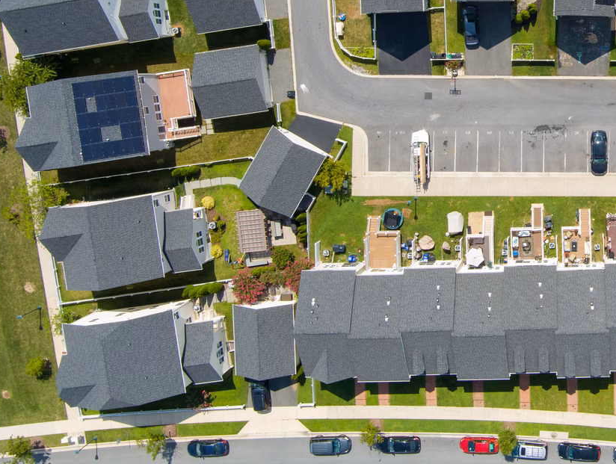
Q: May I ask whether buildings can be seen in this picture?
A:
Yes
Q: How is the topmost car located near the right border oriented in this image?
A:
up and down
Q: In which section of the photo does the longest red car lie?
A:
bottom right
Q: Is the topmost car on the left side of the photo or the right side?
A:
right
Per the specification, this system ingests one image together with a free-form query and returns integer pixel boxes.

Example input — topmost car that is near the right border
[589,130,609,173]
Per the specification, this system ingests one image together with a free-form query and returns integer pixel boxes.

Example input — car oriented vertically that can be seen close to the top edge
[461,5,481,47]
